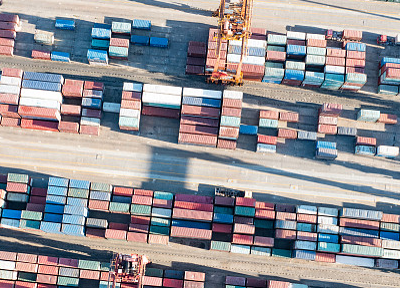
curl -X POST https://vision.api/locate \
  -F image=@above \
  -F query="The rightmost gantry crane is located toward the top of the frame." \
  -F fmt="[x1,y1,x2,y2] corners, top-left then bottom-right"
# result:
[205,0,255,87]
